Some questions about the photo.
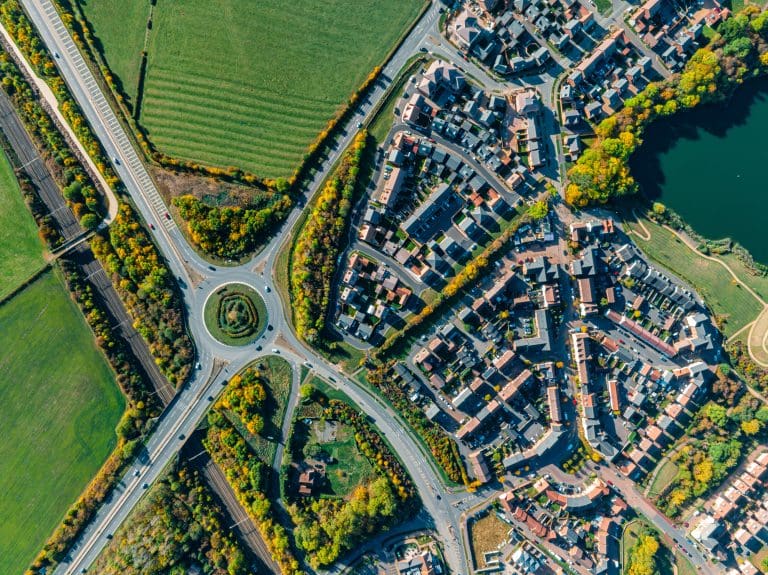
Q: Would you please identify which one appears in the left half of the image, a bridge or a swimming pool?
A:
bridge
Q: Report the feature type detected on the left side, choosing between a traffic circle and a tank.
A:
traffic circle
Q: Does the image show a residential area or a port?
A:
residential area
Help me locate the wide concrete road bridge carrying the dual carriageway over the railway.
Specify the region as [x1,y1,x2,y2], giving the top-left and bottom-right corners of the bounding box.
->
[148,380,222,442]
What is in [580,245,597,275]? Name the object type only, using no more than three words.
house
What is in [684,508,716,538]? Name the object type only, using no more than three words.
building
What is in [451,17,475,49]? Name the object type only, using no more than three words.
building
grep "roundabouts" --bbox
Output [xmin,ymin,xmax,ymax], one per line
[187,266,284,363]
